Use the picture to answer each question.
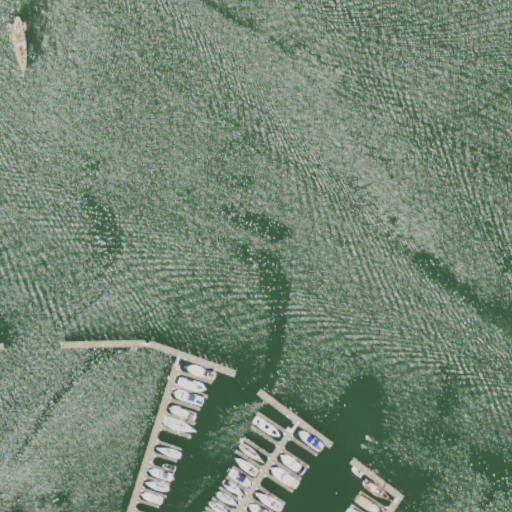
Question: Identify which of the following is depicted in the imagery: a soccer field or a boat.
boat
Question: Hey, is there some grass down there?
No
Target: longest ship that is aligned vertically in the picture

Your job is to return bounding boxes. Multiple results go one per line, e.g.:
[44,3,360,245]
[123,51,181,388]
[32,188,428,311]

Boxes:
[13,16,26,78]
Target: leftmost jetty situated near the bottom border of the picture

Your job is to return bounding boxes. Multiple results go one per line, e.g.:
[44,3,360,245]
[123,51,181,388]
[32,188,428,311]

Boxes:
[126,356,212,512]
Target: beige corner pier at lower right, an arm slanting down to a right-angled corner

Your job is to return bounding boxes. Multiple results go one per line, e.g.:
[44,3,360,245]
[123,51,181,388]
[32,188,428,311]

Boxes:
[352,458,403,512]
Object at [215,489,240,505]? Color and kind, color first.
white boat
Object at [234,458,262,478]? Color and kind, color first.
white boat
